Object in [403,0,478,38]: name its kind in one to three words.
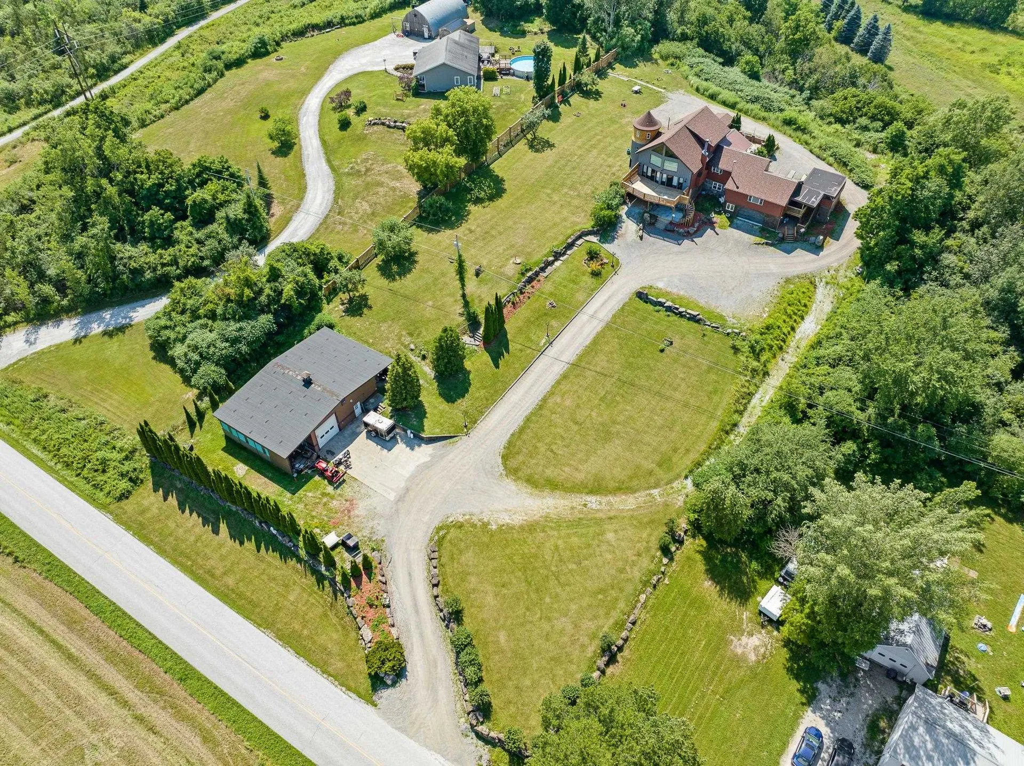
barn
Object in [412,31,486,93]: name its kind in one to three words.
house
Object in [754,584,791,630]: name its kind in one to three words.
trailer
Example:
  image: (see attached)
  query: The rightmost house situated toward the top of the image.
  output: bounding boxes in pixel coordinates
[620,103,849,240]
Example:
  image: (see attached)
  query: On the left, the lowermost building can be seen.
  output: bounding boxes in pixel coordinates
[210,327,393,474]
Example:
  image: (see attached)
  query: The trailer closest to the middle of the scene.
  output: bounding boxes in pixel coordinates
[363,411,396,440]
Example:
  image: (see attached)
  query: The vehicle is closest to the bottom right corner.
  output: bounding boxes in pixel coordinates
[831,733,856,766]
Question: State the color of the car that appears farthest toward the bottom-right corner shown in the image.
black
